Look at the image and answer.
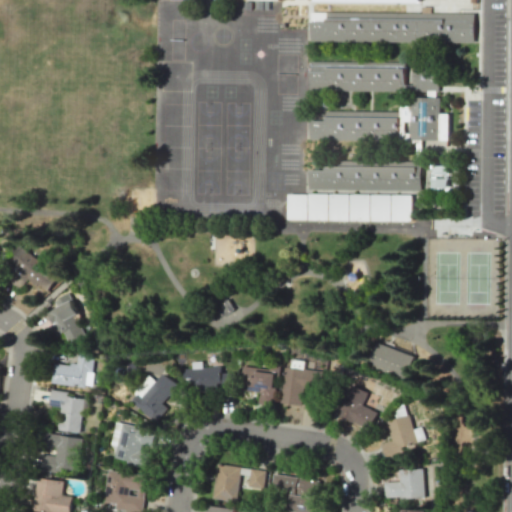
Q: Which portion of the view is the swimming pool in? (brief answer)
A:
bottom left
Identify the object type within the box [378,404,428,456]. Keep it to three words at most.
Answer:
house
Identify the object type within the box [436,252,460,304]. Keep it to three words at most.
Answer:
tennis court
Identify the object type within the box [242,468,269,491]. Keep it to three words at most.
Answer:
building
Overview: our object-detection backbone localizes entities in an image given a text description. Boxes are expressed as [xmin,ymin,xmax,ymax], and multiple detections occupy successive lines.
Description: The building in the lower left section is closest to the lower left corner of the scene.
[34,476,74,512]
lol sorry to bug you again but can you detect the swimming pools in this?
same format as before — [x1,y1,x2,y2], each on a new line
[64,477,88,500]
